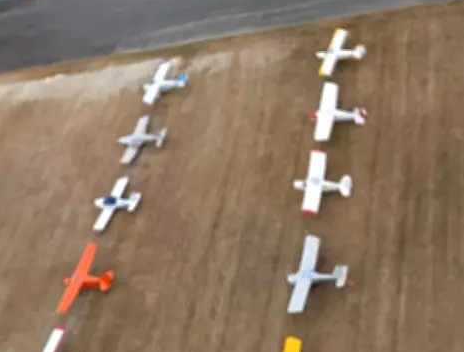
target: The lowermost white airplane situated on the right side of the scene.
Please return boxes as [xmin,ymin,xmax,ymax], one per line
[286,236,351,313]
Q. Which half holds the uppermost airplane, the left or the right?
right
